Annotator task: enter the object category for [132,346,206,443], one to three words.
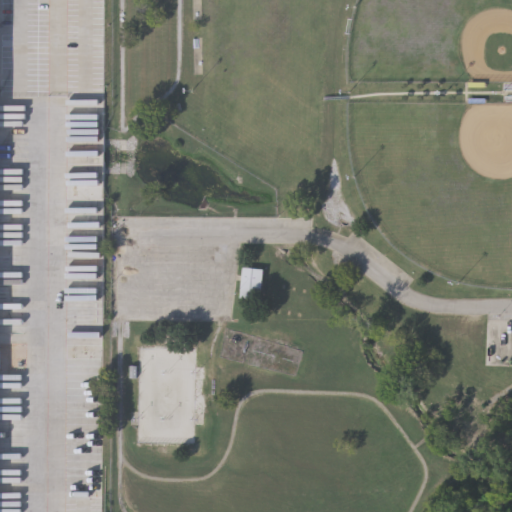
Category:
sports court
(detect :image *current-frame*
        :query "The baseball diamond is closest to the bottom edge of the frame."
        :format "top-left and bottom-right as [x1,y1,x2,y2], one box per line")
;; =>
[348,102,512,288]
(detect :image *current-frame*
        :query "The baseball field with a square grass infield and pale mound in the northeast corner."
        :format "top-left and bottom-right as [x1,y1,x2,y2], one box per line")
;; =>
[348,0,512,82]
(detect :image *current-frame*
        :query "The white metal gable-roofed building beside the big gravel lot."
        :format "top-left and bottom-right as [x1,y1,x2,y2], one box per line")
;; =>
[239,266,264,298]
